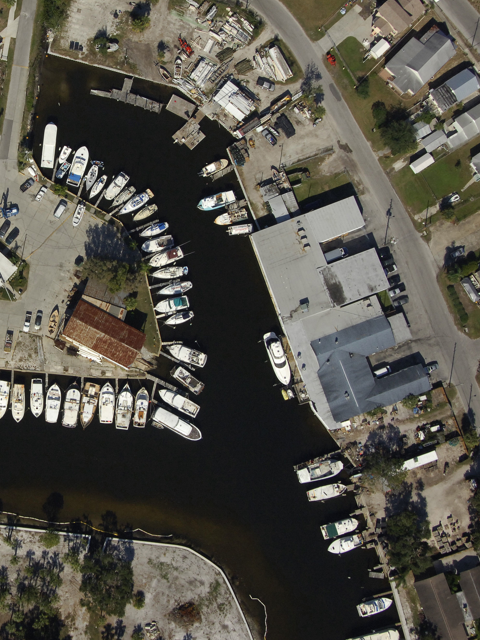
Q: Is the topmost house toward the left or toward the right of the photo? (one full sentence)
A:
The topmost house sits on the right side.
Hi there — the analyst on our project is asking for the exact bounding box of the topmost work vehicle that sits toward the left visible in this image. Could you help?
[175,32,197,54]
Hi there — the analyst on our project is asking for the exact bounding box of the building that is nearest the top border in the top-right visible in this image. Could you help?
[372,0,426,38]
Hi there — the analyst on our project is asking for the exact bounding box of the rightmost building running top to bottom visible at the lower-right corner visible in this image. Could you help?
[454,567,480,622]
